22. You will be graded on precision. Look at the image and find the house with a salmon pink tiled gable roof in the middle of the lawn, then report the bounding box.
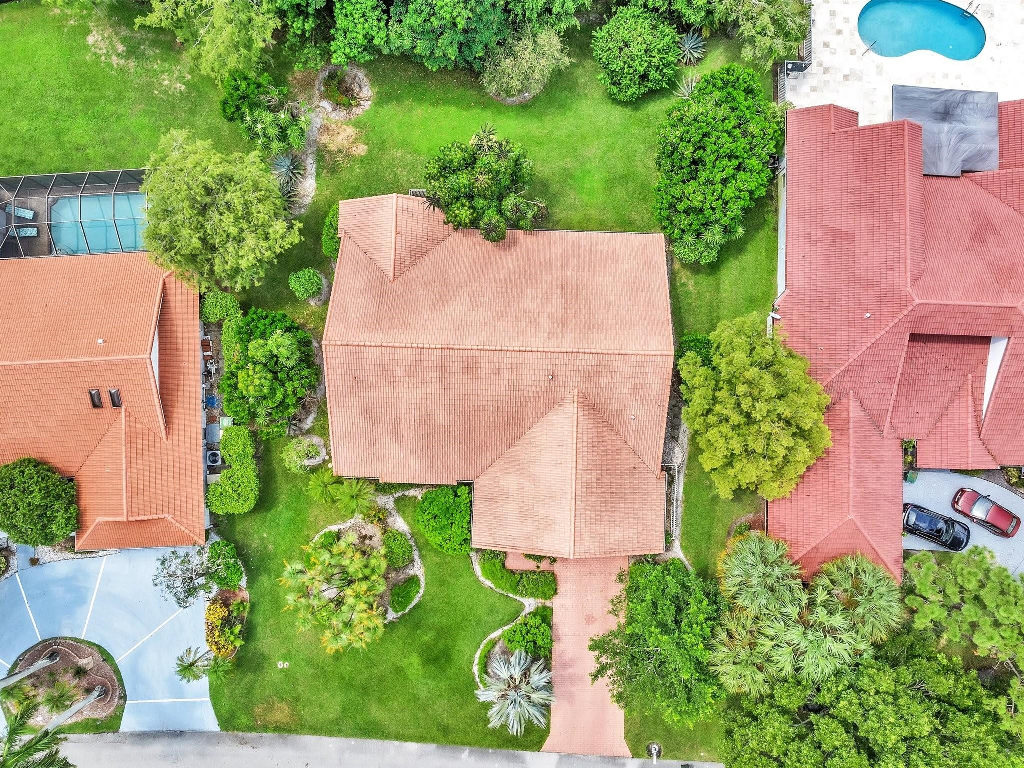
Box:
[319,192,677,561]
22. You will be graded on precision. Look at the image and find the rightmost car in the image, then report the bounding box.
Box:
[955,488,1024,544]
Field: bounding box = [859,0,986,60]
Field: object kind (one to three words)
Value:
swimming pool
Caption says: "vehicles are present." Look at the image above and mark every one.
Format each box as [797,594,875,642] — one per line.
[903,501,981,554]
[955,488,1024,544]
